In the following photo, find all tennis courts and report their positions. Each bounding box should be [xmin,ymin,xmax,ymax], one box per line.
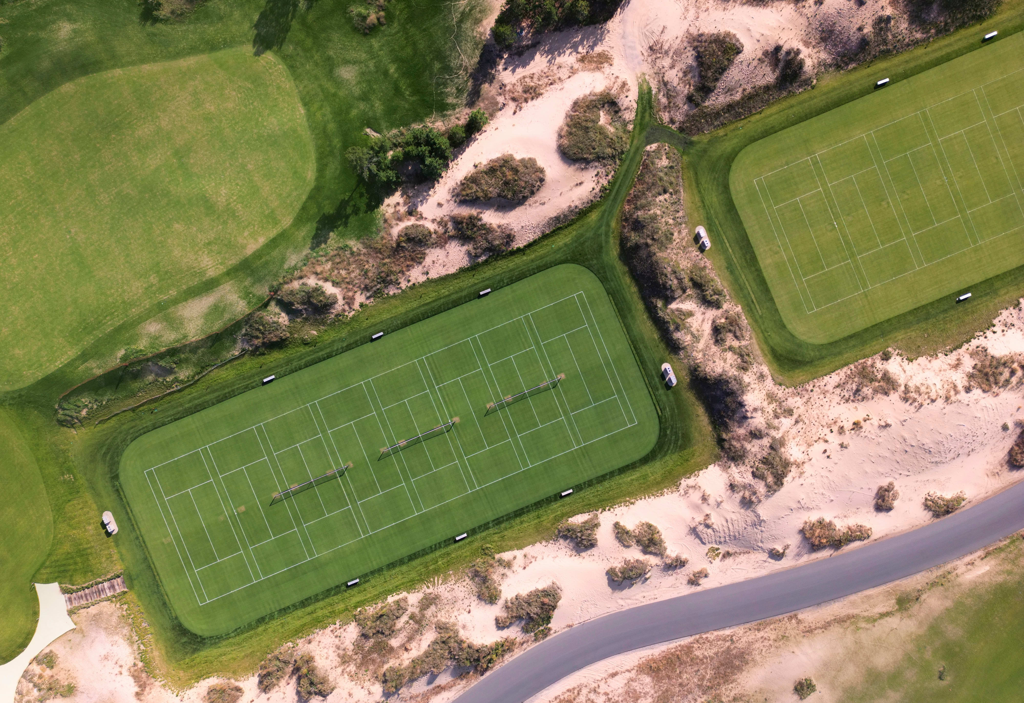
[808,136,916,291]
[198,428,307,583]
[467,317,575,471]
[306,383,414,538]
[252,405,361,561]
[145,450,254,605]
[521,291,637,449]
[359,361,468,516]
[413,339,522,494]
[916,91,1023,247]
[755,158,862,313]
[862,113,970,269]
